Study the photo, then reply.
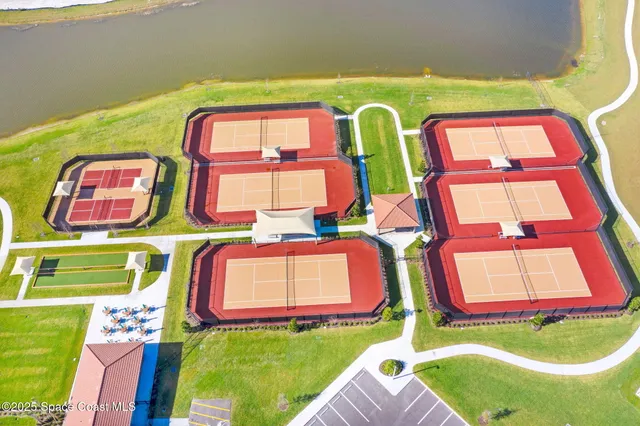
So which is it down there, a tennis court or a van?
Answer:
tennis court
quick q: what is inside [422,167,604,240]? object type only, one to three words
tennis court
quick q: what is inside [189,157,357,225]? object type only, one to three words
tennis court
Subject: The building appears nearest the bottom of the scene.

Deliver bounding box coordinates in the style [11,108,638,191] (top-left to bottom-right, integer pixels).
[63,341,148,426]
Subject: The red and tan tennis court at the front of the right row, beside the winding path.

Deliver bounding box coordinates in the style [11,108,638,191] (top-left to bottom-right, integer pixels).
[423,232,627,321]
